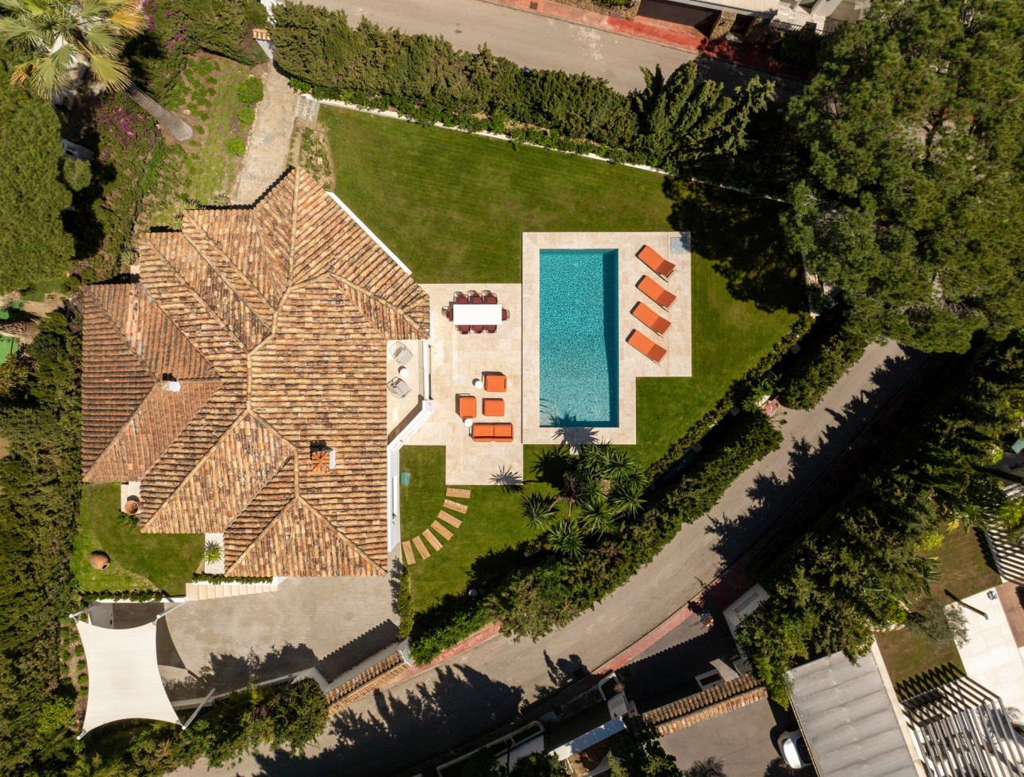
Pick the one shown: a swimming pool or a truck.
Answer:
swimming pool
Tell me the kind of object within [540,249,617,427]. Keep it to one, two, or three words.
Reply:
swimming pool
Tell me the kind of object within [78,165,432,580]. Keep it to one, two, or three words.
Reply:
house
